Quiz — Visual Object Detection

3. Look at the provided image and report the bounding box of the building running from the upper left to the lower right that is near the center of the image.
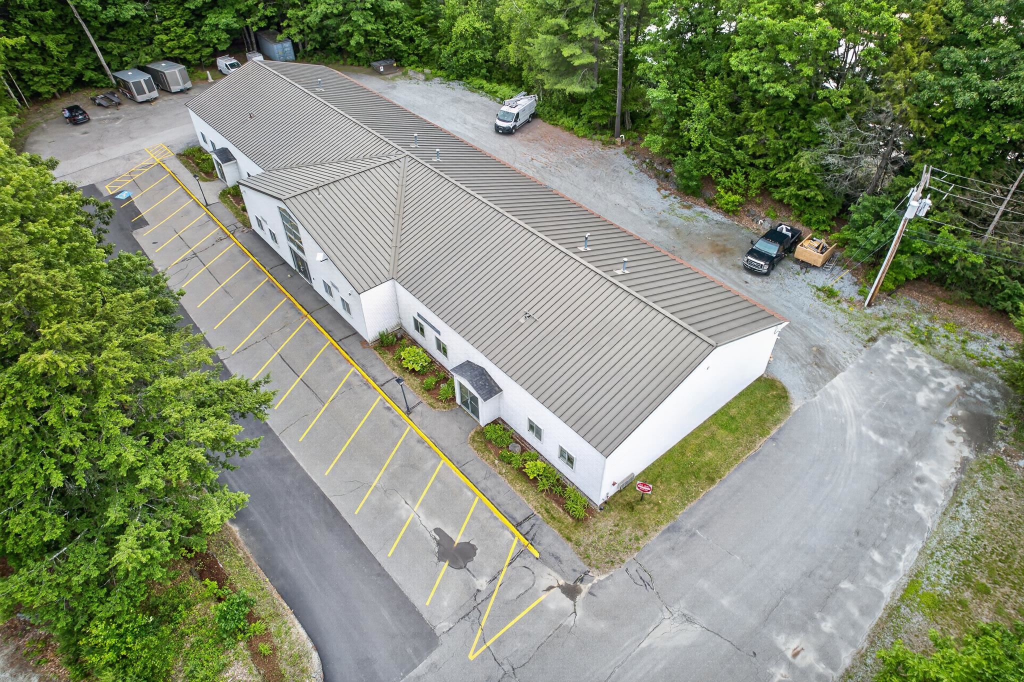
[184,57,792,507]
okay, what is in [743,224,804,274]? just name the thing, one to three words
truck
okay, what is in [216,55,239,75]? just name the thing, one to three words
vehicle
